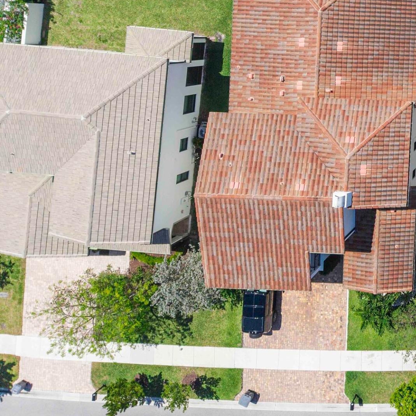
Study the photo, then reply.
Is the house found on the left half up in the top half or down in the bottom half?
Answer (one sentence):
It is in the top half that the house found on the left half appears.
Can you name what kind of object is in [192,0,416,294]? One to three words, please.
house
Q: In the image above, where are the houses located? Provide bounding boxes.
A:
[192,0,416,294]
[0,24,209,258]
